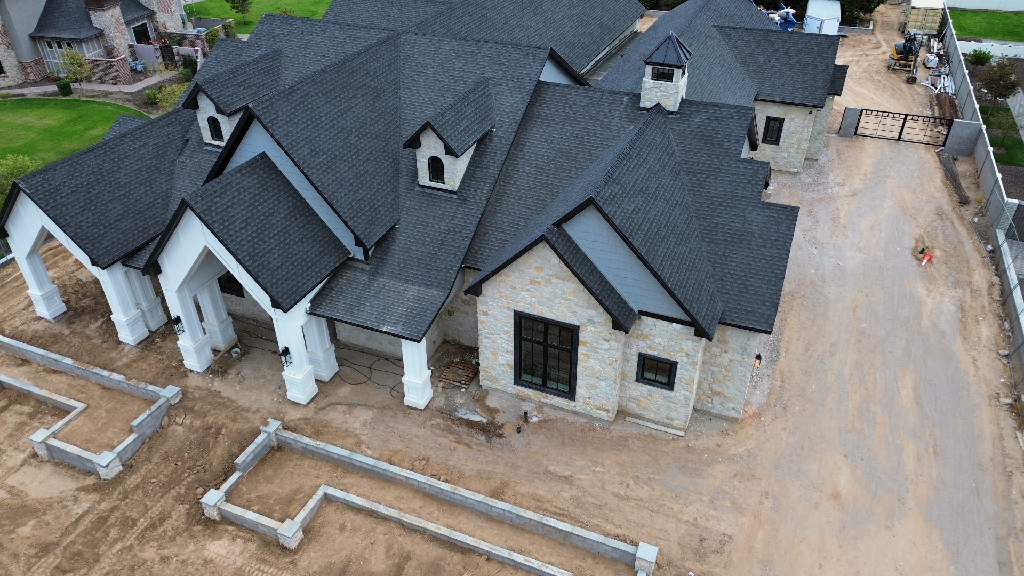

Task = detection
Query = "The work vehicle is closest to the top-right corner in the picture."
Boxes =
[885,30,924,81]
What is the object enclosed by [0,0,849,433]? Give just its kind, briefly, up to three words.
house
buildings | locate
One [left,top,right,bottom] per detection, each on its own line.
[0,0,849,433]
[0,0,233,89]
